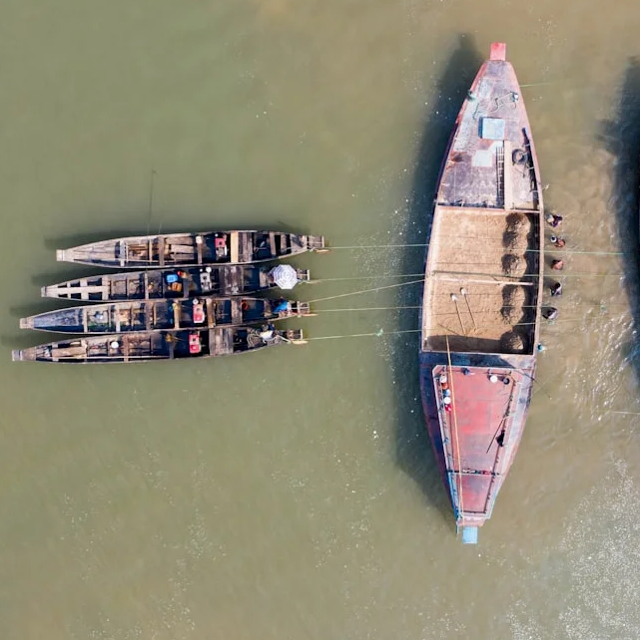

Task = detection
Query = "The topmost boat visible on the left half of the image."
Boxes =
[56,230,329,268]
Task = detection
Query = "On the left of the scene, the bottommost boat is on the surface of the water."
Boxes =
[12,327,309,365]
